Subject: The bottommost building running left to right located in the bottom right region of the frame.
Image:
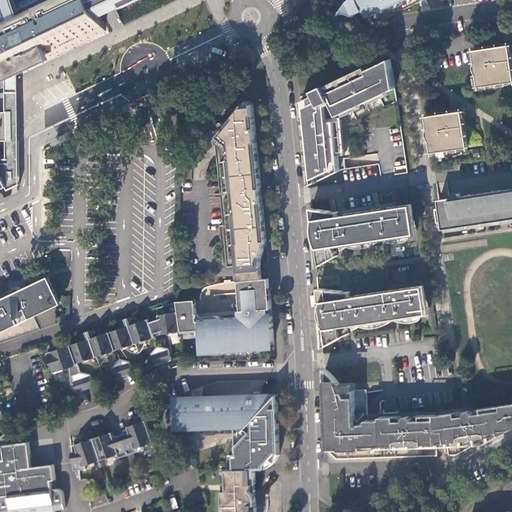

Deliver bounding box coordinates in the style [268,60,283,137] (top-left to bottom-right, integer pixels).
[321,370,512,460]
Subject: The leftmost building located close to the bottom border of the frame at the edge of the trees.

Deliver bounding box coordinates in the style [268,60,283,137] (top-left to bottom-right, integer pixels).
[0,444,68,512]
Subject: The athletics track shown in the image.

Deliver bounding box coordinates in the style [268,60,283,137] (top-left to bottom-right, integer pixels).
[464,249,512,392]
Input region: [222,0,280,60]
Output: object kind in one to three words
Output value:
roundabout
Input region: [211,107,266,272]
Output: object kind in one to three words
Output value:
building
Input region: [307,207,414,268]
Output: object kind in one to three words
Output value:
building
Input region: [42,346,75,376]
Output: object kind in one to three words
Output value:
house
